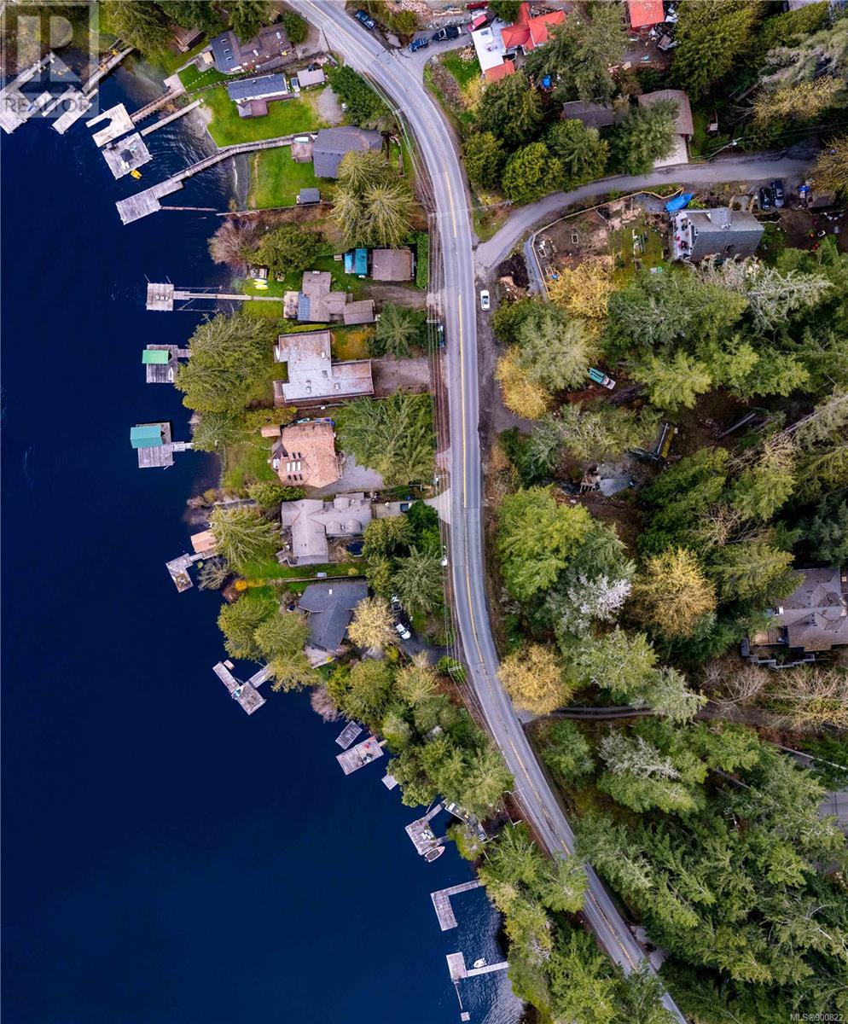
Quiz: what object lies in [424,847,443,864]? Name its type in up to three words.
boat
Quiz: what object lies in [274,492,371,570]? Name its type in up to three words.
house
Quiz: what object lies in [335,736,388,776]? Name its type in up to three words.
pier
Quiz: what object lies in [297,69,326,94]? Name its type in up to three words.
shed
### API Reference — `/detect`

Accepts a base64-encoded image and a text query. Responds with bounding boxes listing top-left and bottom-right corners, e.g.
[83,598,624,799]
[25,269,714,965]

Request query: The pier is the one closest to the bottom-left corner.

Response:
[212,661,271,716]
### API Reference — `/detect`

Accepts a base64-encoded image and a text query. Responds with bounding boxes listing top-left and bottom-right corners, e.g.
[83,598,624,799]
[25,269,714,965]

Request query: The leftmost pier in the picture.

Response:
[0,48,56,135]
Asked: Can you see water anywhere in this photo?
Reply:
Yes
